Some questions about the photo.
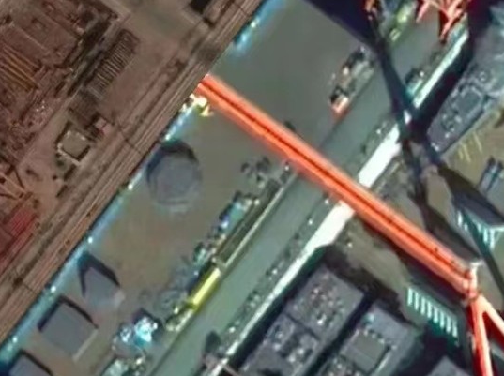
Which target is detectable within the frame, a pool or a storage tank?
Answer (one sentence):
There is a storage tank in the scene.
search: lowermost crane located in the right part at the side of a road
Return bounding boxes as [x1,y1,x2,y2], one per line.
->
[197,73,504,376]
